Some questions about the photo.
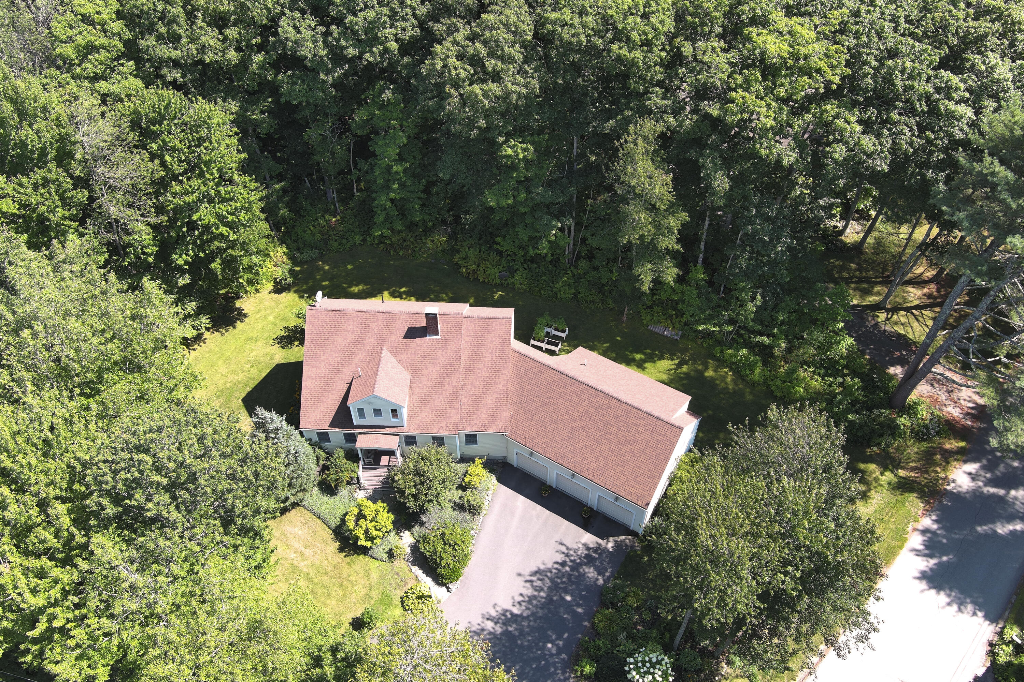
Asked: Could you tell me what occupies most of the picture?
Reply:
trees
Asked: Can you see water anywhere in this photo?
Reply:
No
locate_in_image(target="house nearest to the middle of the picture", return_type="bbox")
[299,292,701,534]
